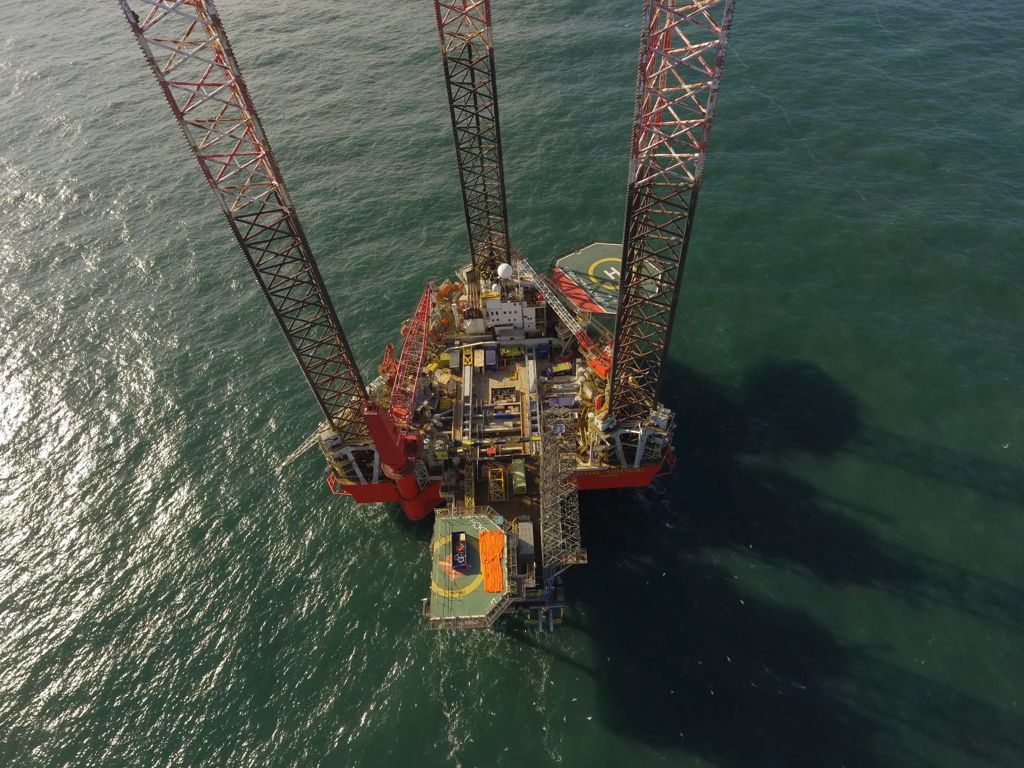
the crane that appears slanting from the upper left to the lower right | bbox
[502,239,627,384]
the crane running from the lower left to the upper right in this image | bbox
[278,338,410,472]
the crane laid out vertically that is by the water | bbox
[368,283,437,507]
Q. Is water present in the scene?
Yes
